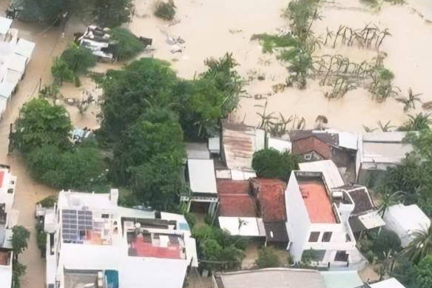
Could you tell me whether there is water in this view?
Yes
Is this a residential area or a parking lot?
residential area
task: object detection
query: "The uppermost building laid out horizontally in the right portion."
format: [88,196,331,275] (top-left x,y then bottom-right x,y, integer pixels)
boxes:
[290,132,343,147]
